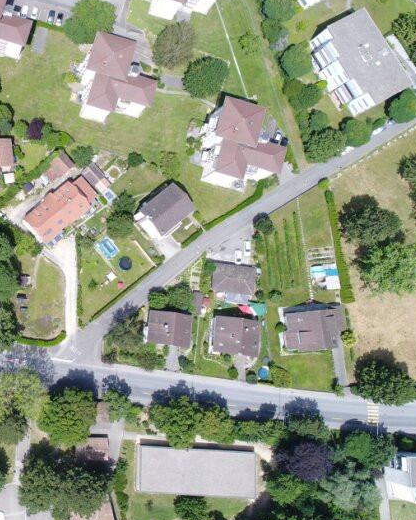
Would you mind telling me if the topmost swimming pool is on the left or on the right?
left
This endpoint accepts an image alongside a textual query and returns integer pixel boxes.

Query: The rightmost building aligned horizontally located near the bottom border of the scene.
[132,438,256,499]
